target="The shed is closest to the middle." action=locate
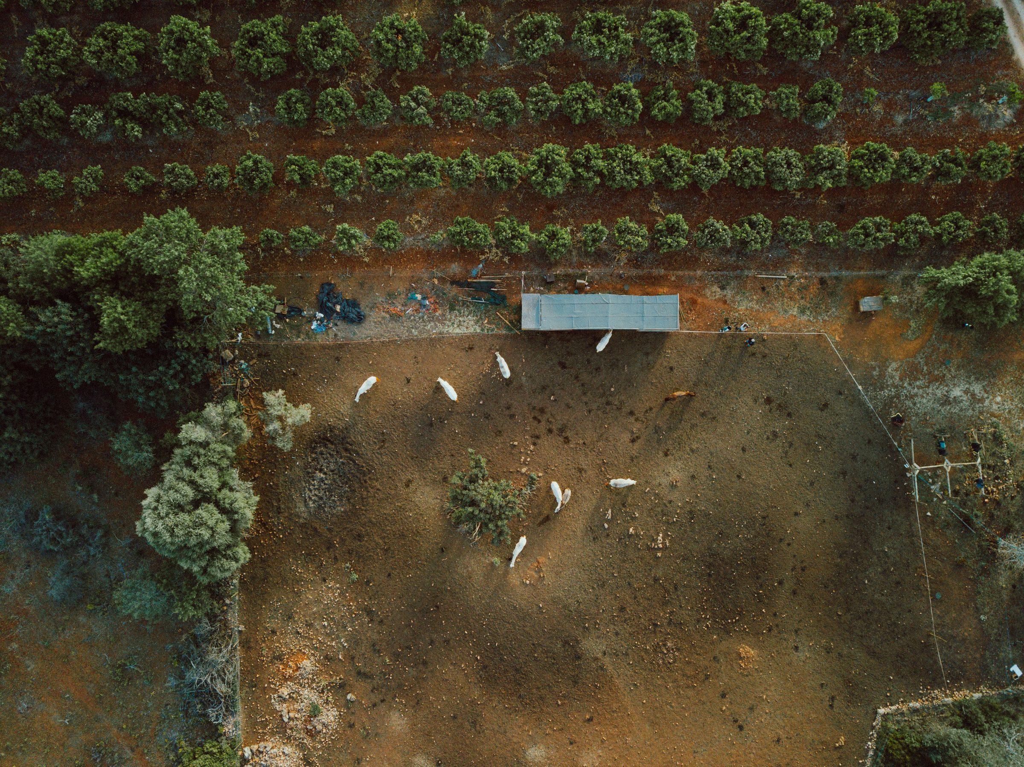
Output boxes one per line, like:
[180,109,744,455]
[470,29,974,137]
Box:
[522,293,679,333]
